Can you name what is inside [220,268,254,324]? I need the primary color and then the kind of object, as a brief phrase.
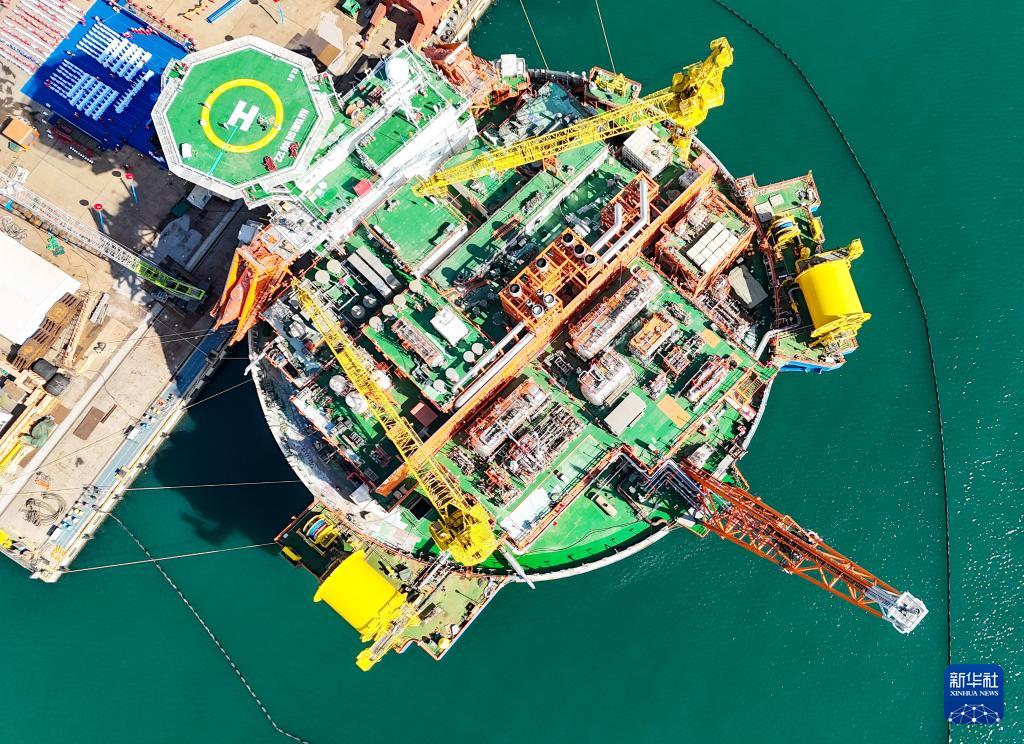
red boat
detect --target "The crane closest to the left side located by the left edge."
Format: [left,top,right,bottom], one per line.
[0,183,221,321]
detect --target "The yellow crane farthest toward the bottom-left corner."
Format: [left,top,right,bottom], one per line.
[288,273,502,572]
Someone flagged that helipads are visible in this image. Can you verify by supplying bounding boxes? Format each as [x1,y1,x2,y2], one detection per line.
[152,31,341,205]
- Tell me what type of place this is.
port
